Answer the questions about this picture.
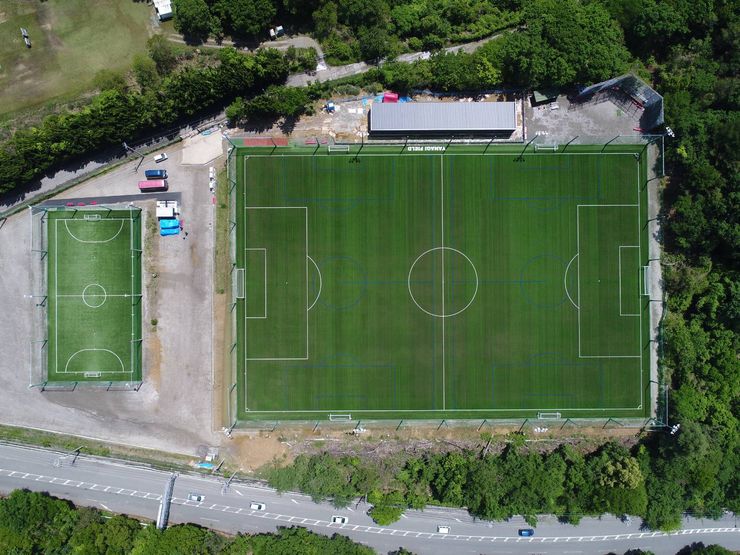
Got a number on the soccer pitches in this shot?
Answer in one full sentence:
The number of soccer pitches here is 2.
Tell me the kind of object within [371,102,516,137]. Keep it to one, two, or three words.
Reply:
building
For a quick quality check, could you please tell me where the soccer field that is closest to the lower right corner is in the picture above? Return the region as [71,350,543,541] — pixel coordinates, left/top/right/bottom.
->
[236,145,650,420]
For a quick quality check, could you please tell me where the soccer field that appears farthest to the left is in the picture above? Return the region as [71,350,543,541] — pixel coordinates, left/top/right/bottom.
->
[48,210,142,382]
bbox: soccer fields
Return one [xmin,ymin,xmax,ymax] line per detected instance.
[48,210,142,382]
[236,145,650,420]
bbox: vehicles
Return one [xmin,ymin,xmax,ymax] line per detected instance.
[153,152,169,163]
[322,103,335,111]
[188,493,206,503]
[139,178,171,190]
[436,525,450,533]
[517,528,533,537]
[250,502,266,510]
[145,168,169,178]
[332,515,348,524]
[268,26,278,40]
